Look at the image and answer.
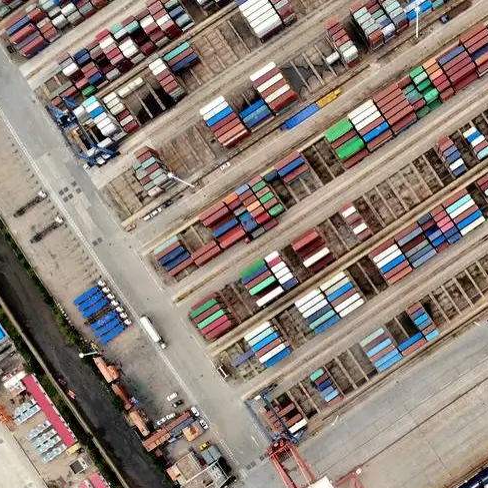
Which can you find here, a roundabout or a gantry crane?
gantry crane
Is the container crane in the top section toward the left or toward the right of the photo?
left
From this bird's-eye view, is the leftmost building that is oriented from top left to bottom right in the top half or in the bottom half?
bottom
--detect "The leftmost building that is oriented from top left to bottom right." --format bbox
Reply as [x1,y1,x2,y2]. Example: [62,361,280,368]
[21,374,76,448]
